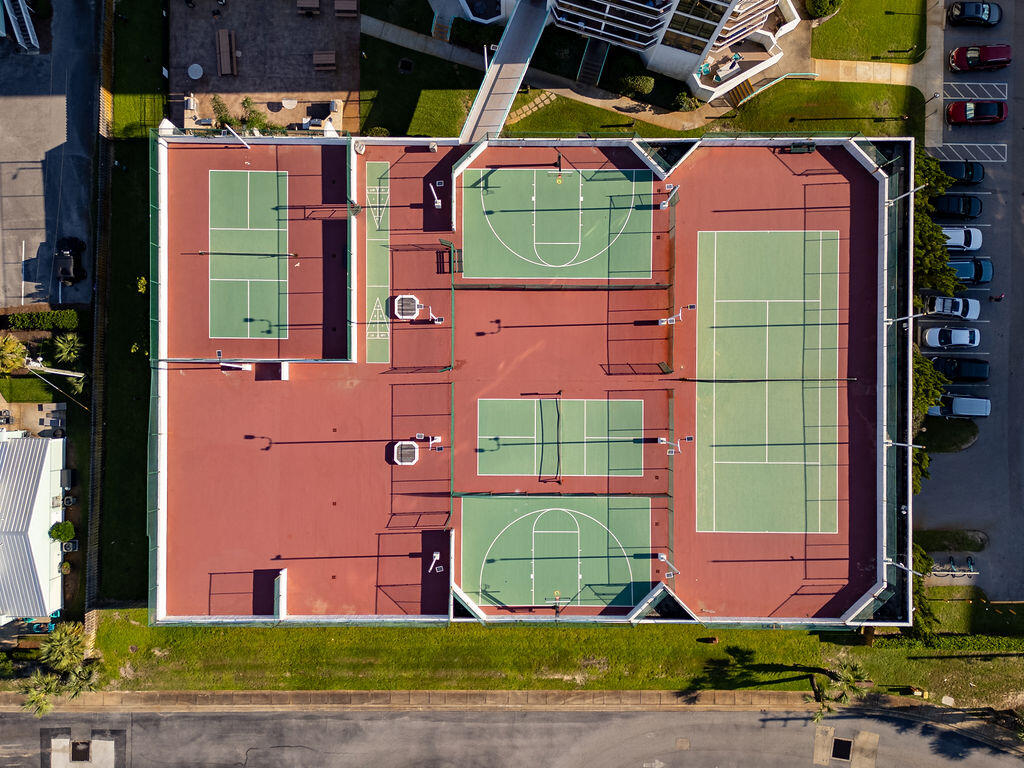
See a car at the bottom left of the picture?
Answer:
No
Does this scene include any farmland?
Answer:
No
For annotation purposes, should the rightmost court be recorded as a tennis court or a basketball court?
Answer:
tennis court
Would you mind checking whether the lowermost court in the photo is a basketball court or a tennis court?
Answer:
basketball court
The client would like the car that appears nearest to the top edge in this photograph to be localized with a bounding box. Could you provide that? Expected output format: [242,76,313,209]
[944,0,998,31]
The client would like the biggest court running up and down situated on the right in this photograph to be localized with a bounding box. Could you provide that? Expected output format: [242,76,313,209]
[696,230,840,534]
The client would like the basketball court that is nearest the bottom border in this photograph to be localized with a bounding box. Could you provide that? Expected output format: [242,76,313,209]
[461,496,652,606]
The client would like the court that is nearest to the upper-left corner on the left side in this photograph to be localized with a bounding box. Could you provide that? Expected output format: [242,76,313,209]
[209,169,289,339]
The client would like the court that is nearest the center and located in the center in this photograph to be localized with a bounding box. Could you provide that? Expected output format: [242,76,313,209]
[477,398,644,477]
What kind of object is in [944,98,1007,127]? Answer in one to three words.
car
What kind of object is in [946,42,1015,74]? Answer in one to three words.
car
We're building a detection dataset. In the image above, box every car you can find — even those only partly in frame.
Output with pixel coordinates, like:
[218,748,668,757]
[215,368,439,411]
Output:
[951,256,994,284]
[921,294,980,321]
[919,325,980,351]
[928,356,995,383]
[928,159,985,187]
[923,192,982,220]
[932,393,996,421]
[938,225,983,252]
[944,0,998,31]
[946,42,1015,74]
[944,98,1007,127]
